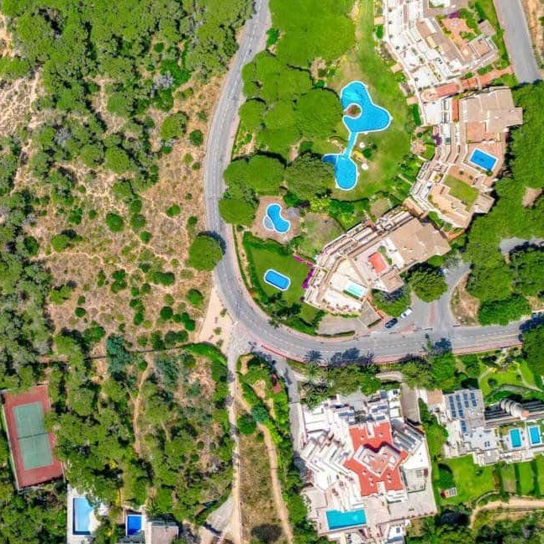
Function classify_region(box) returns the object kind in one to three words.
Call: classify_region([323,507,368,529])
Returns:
swimming pool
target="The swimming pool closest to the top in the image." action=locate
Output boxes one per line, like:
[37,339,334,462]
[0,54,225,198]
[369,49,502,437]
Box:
[338,79,392,134]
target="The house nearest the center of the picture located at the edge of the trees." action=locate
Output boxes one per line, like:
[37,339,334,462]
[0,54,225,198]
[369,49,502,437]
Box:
[300,206,455,329]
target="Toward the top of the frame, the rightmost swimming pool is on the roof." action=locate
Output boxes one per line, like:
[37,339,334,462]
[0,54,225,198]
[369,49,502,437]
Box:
[466,146,502,172]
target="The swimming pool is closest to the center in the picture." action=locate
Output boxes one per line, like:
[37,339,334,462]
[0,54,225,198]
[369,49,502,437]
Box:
[263,267,291,291]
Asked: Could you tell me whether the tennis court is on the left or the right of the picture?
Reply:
left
